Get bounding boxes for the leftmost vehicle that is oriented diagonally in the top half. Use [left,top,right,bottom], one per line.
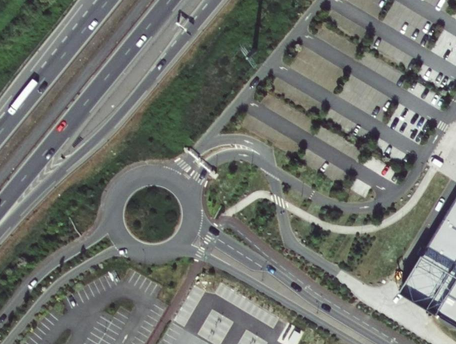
[10,78,40,114]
